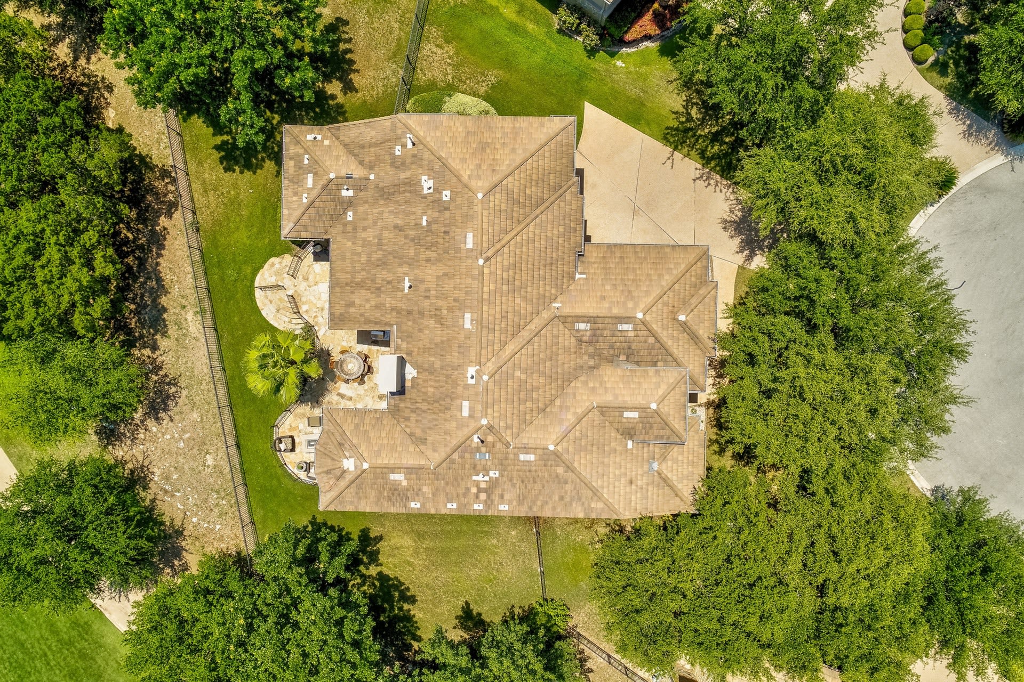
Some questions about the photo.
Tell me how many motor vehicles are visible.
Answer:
zero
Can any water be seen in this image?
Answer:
No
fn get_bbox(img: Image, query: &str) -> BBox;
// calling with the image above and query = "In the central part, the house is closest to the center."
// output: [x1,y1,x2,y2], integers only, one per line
[280,112,720,519]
